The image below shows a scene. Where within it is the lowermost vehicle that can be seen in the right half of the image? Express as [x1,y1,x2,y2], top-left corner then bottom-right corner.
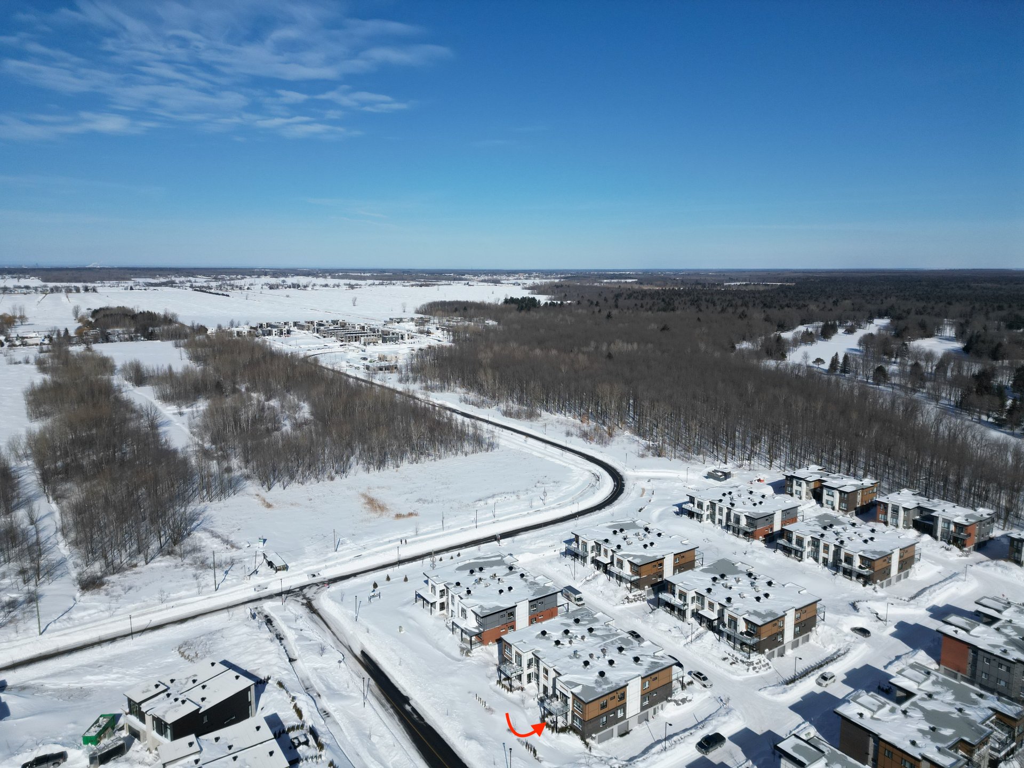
[696,731,726,748]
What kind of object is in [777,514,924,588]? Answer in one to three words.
building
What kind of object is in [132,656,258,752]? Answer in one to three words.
house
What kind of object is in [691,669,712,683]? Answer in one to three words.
car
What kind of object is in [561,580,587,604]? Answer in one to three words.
truck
